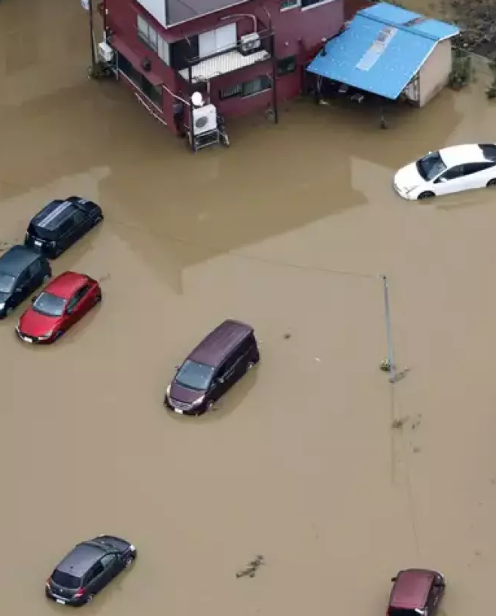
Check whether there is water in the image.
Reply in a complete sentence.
Yes, there's water in this view.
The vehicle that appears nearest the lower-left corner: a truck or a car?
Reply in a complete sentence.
Specifically, the vehicle that appears nearest the lower-left corner is a car.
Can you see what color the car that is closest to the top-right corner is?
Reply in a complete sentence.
The car that is closest to the top-right corner looks white in the image.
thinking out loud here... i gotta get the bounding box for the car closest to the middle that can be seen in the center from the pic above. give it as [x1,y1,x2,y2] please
[163,317,261,415]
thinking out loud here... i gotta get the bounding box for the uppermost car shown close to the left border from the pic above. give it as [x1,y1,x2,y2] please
[20,190,106,257]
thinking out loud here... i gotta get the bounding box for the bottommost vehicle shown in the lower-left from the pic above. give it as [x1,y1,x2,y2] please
[43,531,135,607]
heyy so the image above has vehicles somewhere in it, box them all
[14,263,103,343]
[391,140,496,197]
[163,317,261,415]
[43,531,135,607]
[0,240,52,316]
[395,569,451,616]
[20,190,106,257]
